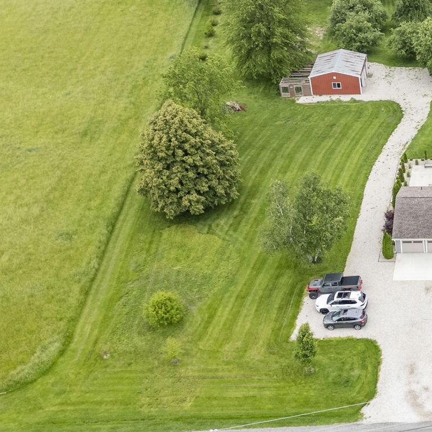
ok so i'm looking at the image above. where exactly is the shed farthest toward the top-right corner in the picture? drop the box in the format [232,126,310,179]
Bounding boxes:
[308,47,370,94]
